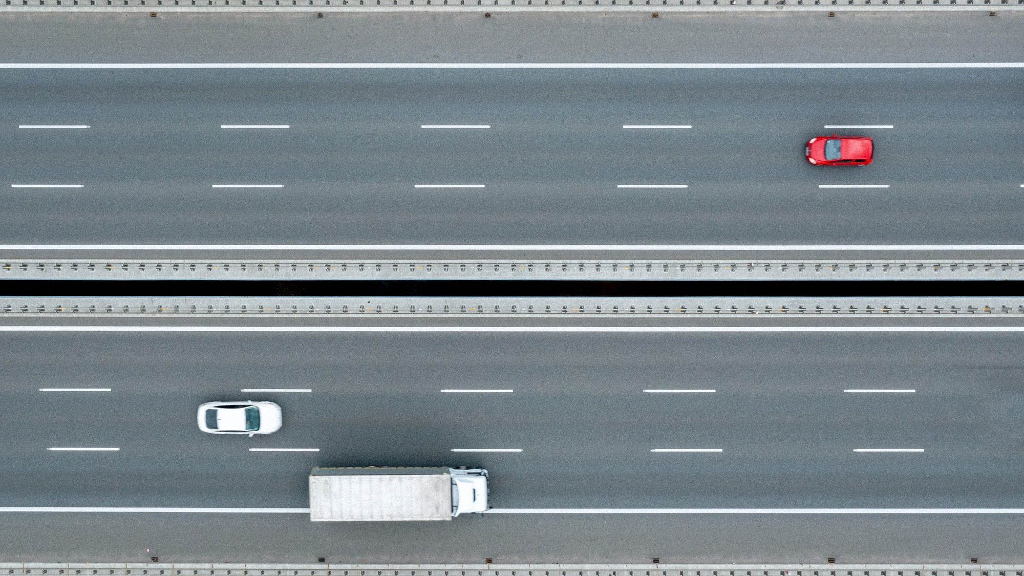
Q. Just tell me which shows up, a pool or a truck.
truck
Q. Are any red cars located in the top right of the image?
Yes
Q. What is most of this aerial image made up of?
paved ground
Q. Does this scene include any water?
No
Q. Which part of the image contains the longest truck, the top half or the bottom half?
bottom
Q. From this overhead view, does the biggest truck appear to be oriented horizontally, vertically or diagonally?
horizontally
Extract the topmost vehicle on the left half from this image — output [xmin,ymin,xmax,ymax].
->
[197,400,283,438]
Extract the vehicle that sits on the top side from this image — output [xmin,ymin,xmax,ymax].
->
[805,132,874,167]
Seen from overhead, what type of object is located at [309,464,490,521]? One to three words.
truck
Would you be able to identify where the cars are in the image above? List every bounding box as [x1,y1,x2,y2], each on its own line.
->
[197,400,283,438]
[805,132,874,167]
